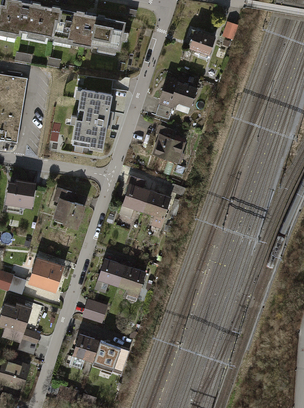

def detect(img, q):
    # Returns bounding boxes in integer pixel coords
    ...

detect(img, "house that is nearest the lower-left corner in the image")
[0,359,30,390]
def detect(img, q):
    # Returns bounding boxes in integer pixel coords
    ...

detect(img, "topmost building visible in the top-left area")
[0,0,125,55]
